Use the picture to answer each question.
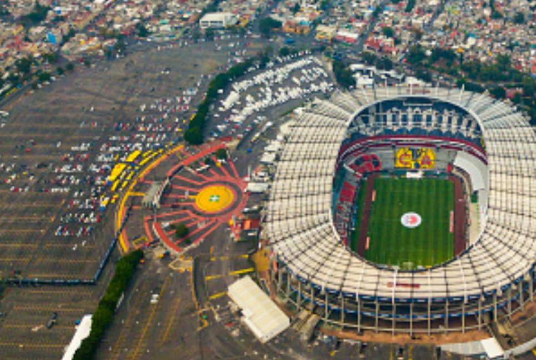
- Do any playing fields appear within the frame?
Yes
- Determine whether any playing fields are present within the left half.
No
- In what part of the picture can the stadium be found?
right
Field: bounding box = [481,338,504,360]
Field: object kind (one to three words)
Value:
shed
